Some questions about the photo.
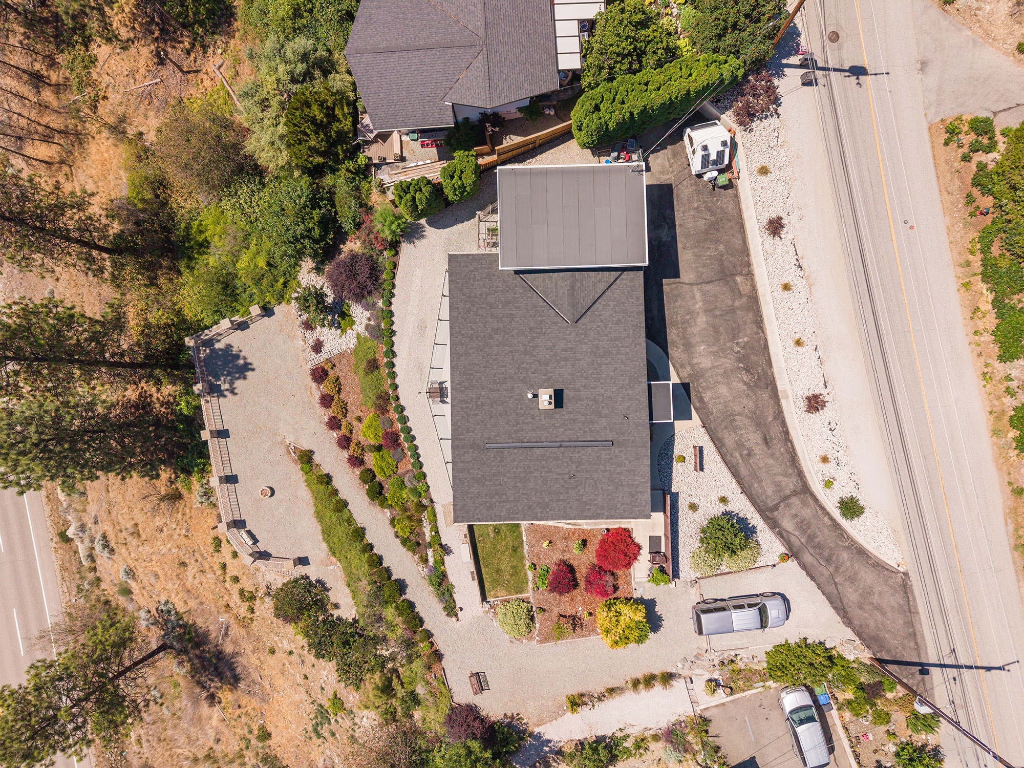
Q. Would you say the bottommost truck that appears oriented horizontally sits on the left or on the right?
right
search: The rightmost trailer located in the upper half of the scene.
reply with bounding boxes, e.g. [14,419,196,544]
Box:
[684,124,732,195]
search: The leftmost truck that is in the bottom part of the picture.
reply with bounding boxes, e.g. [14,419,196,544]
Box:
[684,591,789,638]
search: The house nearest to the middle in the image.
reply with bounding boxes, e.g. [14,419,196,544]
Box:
[447,161,675,525]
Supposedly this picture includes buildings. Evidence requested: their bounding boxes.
[345,0,560,139]
[447,161,675,525]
